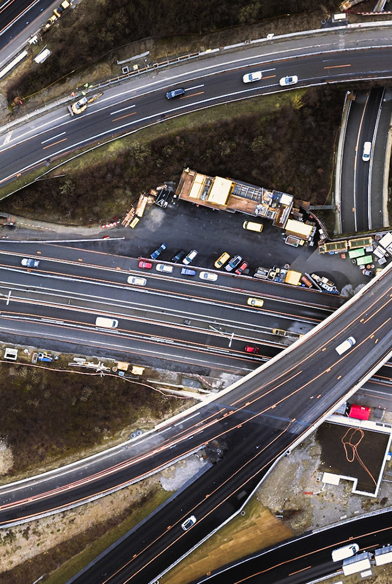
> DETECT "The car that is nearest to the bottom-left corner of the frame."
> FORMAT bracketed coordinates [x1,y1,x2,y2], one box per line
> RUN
[181,515,197,532]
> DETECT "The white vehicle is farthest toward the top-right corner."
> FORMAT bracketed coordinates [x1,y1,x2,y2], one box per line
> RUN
[278,74,298,87]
